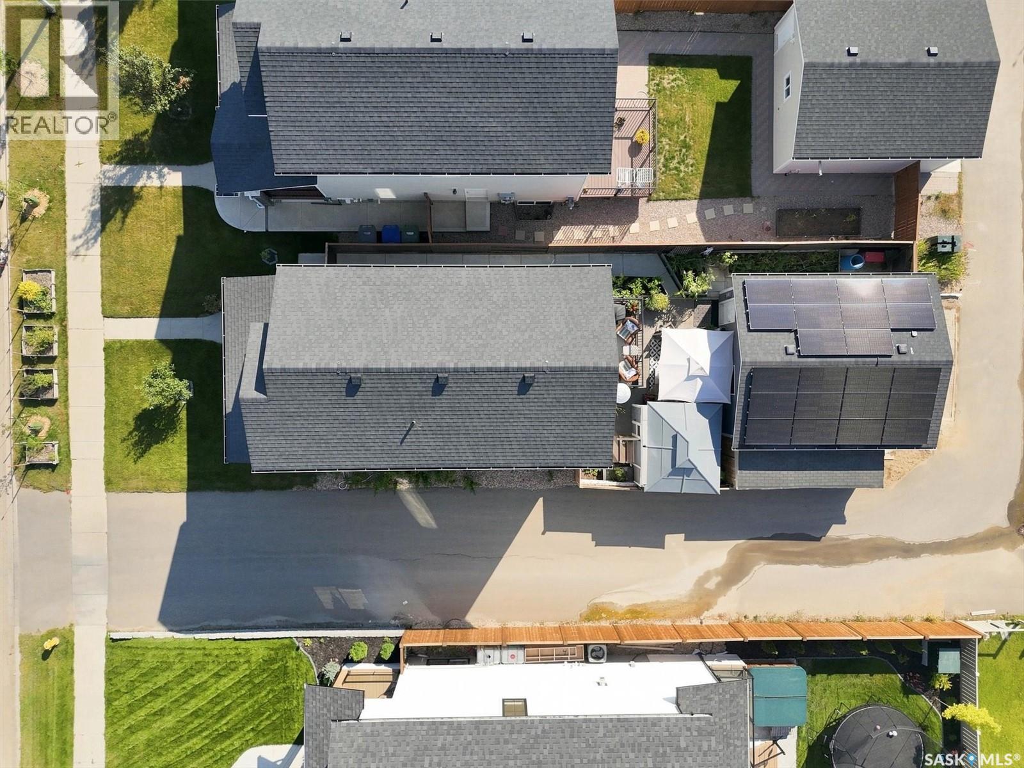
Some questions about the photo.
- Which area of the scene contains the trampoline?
bottom right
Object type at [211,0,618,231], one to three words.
house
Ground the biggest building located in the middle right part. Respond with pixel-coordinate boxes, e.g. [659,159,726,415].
[715,270,957,489]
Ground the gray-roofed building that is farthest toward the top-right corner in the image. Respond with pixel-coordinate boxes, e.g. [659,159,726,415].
[772,0,1002,179]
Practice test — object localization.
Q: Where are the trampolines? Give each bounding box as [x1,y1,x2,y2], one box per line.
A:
[820,694,947,768]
